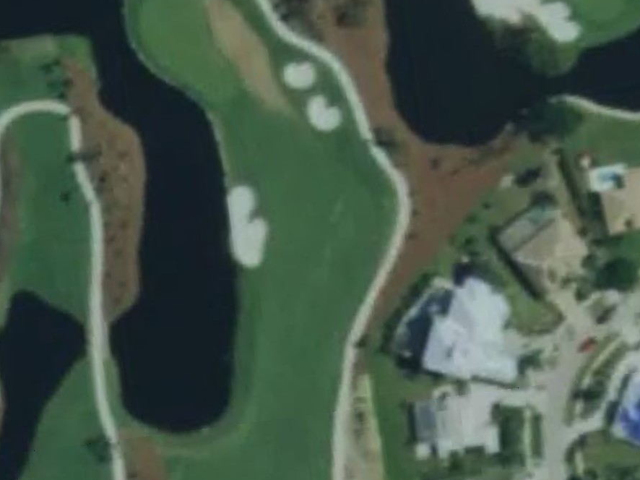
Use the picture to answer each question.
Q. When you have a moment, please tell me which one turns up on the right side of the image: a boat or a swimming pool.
swimming pool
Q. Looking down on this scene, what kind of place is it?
golf course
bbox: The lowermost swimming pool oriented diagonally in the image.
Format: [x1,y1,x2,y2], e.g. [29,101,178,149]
[397,287,451,363]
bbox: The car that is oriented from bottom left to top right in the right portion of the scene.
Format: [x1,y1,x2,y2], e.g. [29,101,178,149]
[579,338,596,352]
